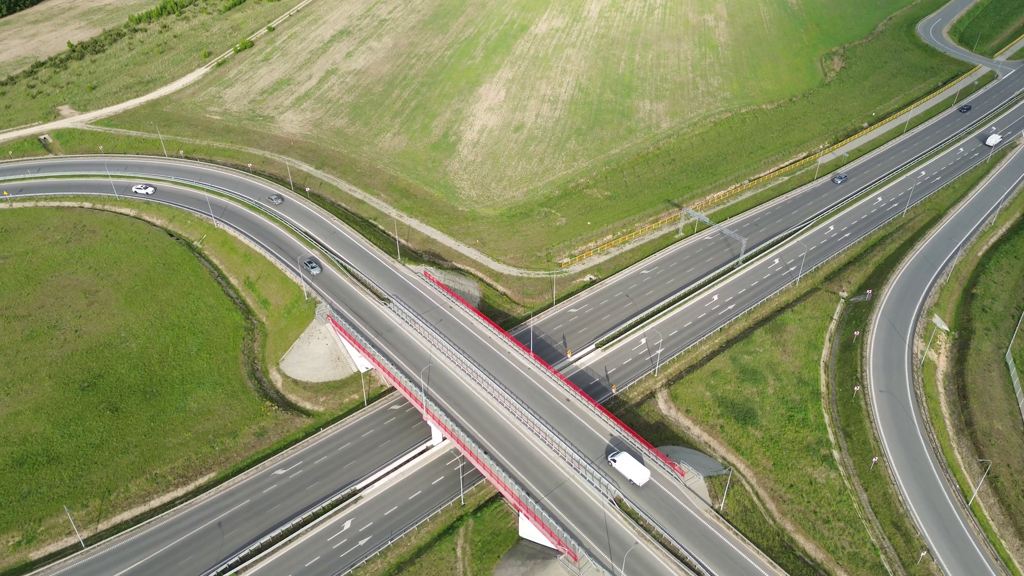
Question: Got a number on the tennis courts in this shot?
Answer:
0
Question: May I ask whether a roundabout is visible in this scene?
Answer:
No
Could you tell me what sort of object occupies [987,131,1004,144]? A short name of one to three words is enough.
vehicle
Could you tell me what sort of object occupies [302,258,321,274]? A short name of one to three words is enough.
car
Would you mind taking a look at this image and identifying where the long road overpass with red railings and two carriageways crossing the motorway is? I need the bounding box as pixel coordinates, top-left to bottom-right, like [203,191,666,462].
[330,275,678,552]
